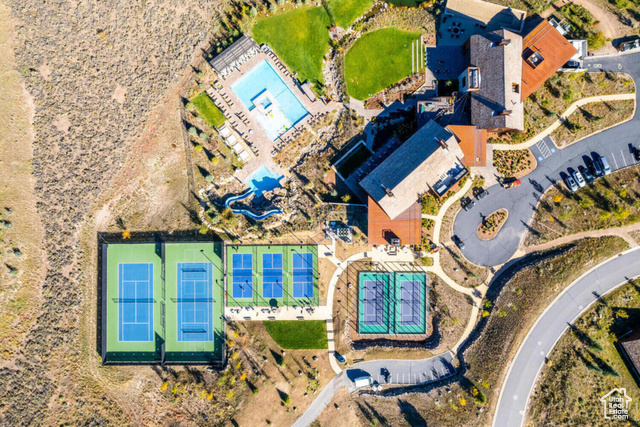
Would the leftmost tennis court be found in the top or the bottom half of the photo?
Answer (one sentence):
It is in the bottom half that the leftmost tennis court appears.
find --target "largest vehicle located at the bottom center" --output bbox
[354,374,373,387]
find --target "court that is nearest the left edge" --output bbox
[107,244,163,361]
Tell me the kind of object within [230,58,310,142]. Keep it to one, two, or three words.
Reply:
swimming pool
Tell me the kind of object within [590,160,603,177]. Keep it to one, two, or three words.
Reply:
vehicle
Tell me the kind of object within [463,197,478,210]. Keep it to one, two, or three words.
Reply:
vehicle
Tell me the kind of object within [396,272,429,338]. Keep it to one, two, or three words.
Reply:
tennis court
